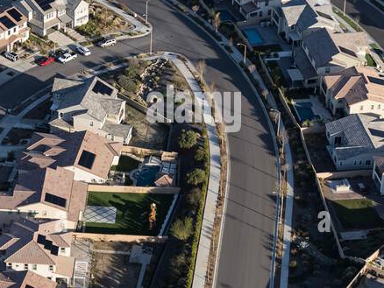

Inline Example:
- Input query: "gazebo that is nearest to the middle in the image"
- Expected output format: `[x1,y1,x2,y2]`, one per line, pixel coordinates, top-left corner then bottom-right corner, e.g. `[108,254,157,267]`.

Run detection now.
[151,173,176,193]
